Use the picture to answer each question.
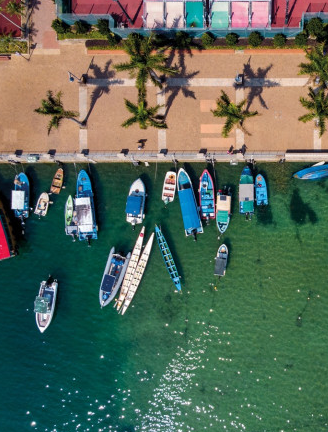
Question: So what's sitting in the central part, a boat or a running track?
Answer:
boat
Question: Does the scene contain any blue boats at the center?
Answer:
Yes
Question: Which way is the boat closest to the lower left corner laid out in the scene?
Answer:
vertically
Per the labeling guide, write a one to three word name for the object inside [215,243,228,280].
boat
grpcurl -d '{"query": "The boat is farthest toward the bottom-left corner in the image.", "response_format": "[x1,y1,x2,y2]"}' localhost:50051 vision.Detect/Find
[35,274,57,334]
